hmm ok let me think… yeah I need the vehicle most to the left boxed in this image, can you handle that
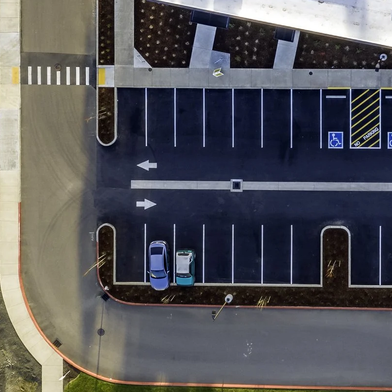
[147,238,170,288]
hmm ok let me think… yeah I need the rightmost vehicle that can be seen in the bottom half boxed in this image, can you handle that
[175,247,197,285]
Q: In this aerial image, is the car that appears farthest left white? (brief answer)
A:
No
